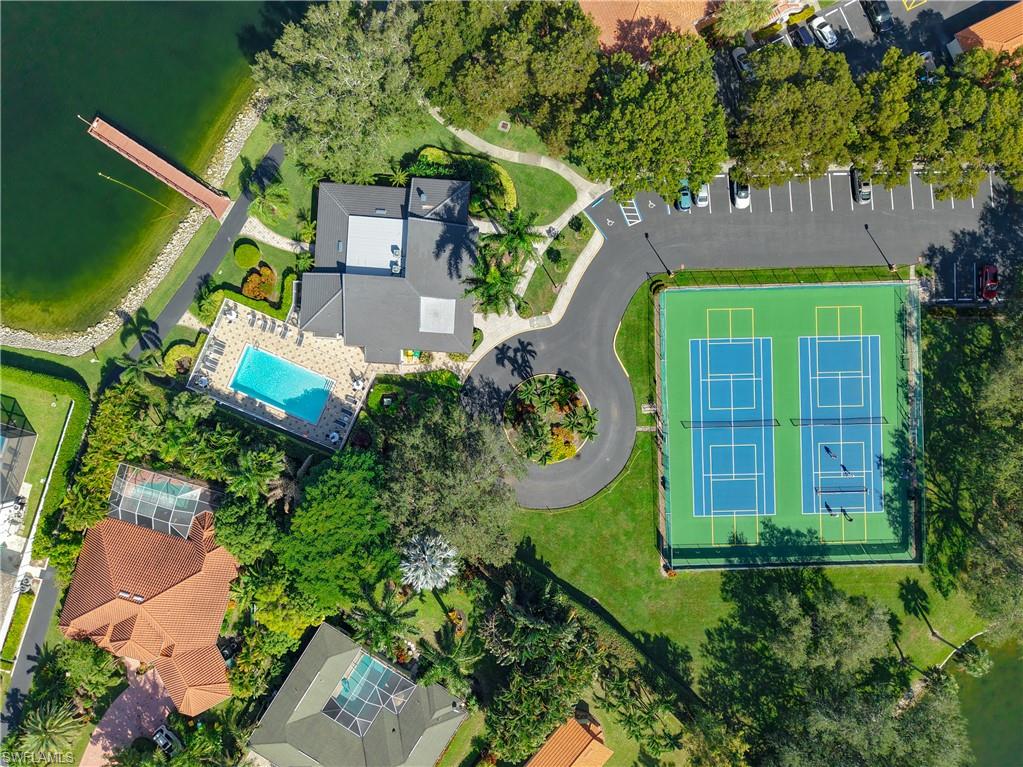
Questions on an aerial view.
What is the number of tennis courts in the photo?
2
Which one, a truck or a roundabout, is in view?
roundabout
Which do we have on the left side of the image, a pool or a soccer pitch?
pool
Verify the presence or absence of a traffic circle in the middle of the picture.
Yes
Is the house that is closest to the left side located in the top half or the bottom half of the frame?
bottom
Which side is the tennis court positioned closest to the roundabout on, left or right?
right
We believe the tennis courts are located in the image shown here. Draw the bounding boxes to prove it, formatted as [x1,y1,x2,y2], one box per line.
[660,287,790,565]
[786,284,911,562]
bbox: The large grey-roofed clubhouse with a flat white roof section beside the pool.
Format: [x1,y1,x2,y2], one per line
[300,178,476,365]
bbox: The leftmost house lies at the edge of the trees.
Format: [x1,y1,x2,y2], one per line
[59,511,240,717]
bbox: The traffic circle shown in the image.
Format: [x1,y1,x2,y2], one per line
[504,373,597,465]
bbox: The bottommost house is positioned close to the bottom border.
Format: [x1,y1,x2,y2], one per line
[521,708,613,767]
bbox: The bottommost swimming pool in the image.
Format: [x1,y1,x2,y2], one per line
[338,652,407,728]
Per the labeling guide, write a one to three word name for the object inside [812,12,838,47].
car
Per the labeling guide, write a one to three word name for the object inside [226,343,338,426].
swimming pool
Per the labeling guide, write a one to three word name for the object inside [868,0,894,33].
car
